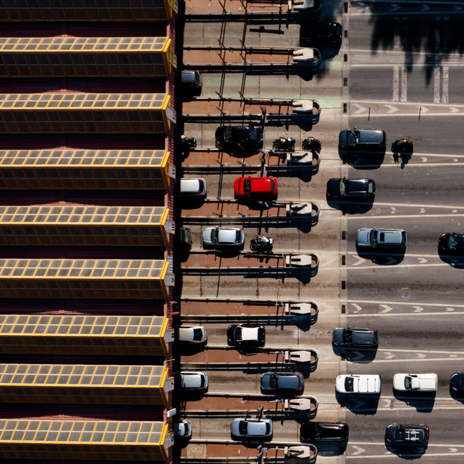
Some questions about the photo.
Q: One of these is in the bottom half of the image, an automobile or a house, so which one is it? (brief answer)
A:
automobile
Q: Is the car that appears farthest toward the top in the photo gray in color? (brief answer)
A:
No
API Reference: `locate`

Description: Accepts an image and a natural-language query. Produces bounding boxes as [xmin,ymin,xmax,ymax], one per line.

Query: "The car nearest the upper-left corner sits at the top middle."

[174,70,202,92]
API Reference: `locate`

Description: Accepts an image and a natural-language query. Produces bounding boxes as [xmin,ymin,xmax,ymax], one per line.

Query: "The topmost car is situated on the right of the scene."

[300,21,342,46]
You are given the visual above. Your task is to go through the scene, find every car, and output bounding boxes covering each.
[357,227,406,249]
[235,176,278,198]
[449,371,464,394]
[216,126,263,149]
[339,126,386,149]
[231,417,272,439]
[174,177,207,196]
[203,225,245,247]
[438,231,464,253]
[173,370,208,391]
[227,325,265,345]
[174,70,202,92]
[385,423,428,445]
[301,420,348,443]
[326,176,376,198]
[173,323,207,345]
[261,371,304,392]
[174,227,192,247]
[173,419,191,438]
[333,326,378,349]
[300,21,342,46]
